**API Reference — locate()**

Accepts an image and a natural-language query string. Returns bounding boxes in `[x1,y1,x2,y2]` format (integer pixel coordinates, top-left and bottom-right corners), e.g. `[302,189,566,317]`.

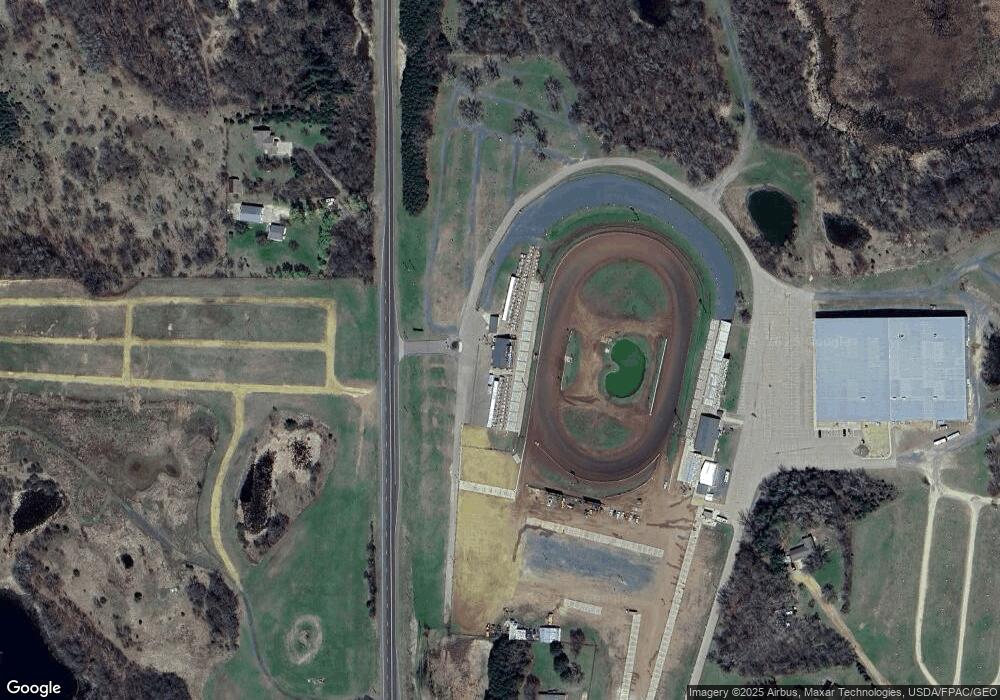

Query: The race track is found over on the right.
[515,227,703,494]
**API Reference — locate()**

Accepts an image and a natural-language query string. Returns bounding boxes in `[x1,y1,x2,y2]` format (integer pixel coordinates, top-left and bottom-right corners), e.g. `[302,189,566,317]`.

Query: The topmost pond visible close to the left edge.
[14,475,62,527]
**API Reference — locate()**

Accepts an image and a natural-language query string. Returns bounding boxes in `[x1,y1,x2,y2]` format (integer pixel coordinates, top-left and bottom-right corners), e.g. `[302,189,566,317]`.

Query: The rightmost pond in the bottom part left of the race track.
[239,451,275,534]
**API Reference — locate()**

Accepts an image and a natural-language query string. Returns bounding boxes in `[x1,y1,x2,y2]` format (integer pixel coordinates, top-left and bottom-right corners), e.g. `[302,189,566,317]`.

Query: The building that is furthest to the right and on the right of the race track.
[815,317,970,425]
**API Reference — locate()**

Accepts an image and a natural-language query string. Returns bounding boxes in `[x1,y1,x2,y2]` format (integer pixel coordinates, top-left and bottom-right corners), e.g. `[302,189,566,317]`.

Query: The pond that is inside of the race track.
[606,340,646,397]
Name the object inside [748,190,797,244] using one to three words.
pond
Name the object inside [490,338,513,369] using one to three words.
building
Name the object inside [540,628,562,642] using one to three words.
shed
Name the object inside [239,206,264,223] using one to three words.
barn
